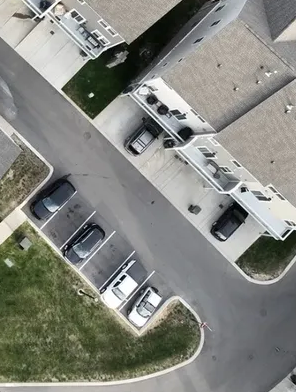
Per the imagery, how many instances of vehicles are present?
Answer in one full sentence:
Looking from above, you can make out 6 vehicles.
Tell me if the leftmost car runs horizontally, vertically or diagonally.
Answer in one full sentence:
What the image shows is the leftmost car lying diagonally.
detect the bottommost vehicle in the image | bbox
[127,287,169,332]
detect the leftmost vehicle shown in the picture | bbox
[32,177,76,223]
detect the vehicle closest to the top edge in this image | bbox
[126,116,168,158]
